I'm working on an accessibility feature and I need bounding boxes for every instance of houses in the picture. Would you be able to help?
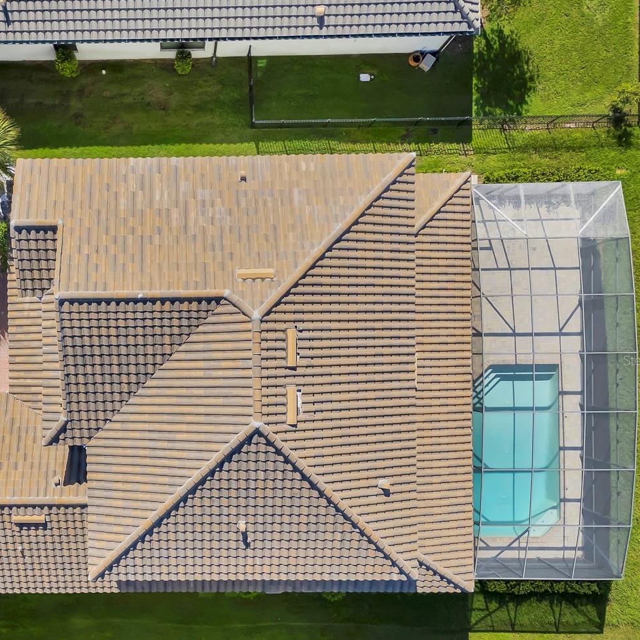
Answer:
[0,0,485,71]
[0,148,478,597]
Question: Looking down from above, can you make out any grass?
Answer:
Yes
